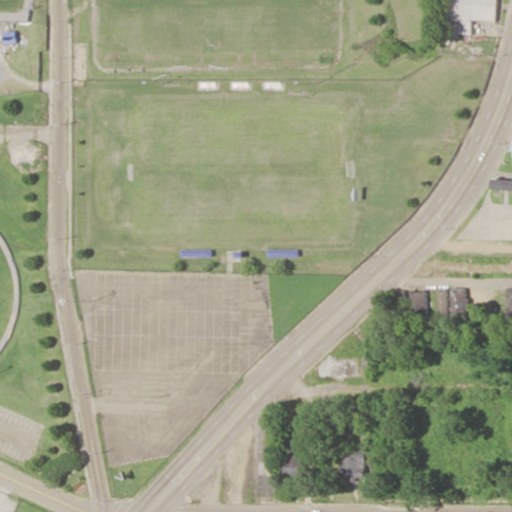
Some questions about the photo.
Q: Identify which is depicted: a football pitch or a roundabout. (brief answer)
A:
football pitch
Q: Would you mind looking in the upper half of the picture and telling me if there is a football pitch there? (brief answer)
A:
Yes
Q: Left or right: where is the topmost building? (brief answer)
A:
right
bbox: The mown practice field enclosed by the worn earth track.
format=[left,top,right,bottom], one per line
[99,0,337,63]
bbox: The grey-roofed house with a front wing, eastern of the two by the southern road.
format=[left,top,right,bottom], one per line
[344,454,366,482]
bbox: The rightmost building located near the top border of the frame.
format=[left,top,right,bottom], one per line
[454,0,497,37]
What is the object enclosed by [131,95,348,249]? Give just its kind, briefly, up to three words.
soccer field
